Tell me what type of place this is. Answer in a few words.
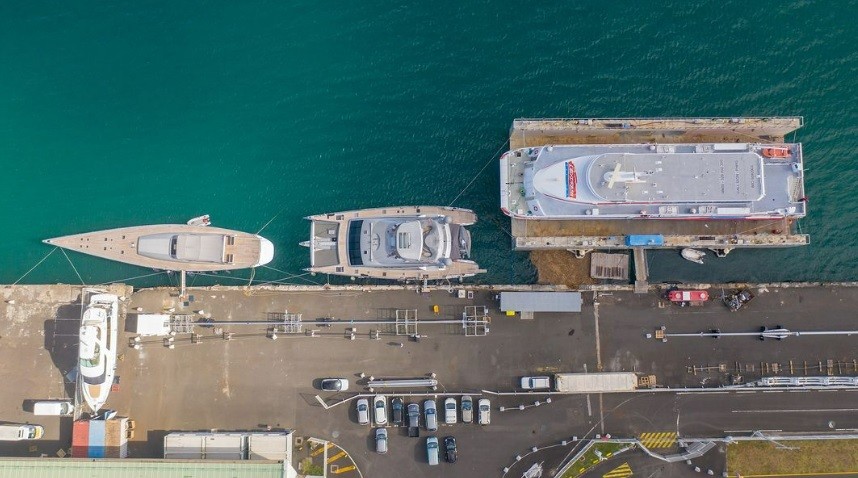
port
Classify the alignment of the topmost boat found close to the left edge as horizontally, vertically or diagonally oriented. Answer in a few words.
horizontally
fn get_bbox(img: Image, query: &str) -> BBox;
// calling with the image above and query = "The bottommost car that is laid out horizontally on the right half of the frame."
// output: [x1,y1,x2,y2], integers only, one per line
[520,377,550,391]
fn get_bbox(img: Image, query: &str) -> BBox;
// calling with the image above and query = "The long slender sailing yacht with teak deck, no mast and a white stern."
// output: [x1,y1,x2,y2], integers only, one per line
[41,224,274,275]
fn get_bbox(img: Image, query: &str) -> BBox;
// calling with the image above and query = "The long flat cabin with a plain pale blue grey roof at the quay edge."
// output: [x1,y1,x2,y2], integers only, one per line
[496,292,583,312]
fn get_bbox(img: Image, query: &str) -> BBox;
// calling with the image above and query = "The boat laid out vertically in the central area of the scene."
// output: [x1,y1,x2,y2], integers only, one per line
[457,226,471,259]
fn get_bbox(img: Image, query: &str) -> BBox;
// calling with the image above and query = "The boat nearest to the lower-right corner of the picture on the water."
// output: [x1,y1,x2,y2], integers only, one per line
[682,248,708,265]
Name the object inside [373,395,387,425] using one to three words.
car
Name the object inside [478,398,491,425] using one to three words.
vehicle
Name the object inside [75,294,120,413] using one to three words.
boat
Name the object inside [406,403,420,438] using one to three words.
vehicle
